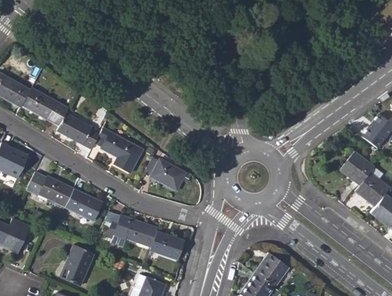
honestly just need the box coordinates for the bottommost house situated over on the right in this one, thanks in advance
[236,252,290,296]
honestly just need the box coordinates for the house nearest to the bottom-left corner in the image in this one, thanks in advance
[0,218,29,251]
